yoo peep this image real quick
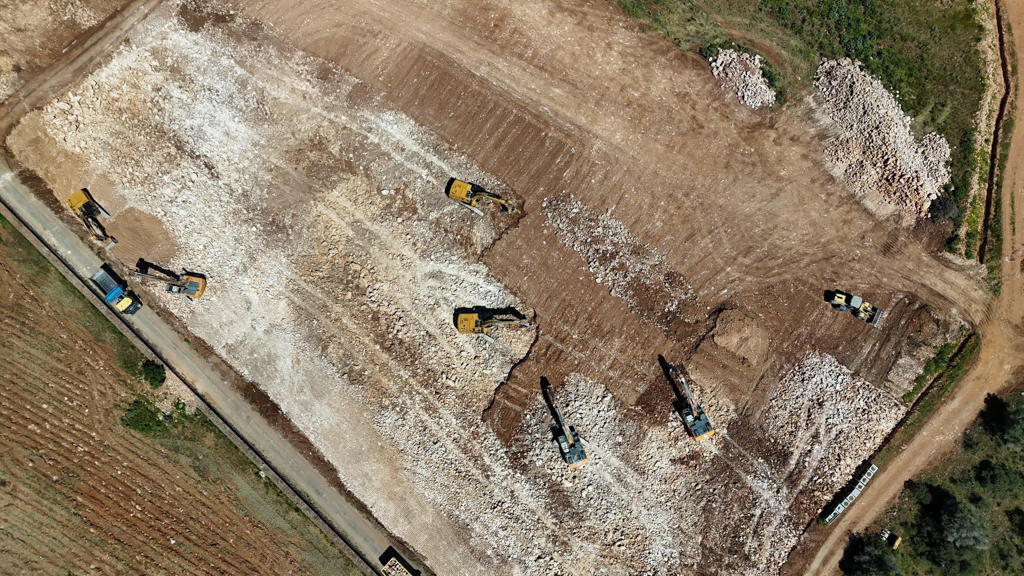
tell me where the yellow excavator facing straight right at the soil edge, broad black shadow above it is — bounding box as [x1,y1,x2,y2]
[457,305,533,340]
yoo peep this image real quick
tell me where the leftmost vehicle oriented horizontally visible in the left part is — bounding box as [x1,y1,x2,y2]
[126,266,215,304]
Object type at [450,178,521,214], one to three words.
work vehicle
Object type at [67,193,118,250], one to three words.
work vehicle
